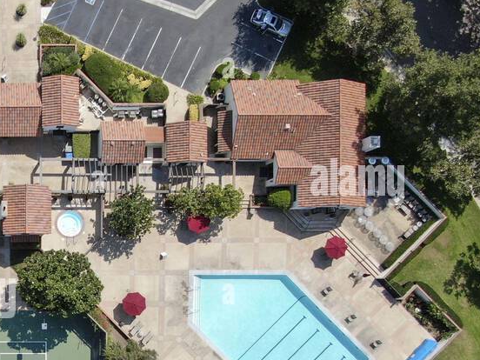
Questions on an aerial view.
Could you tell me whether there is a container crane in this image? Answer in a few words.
No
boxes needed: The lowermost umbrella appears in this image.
[122,292,145,315]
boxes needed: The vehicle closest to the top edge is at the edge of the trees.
[247,8,295,38]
